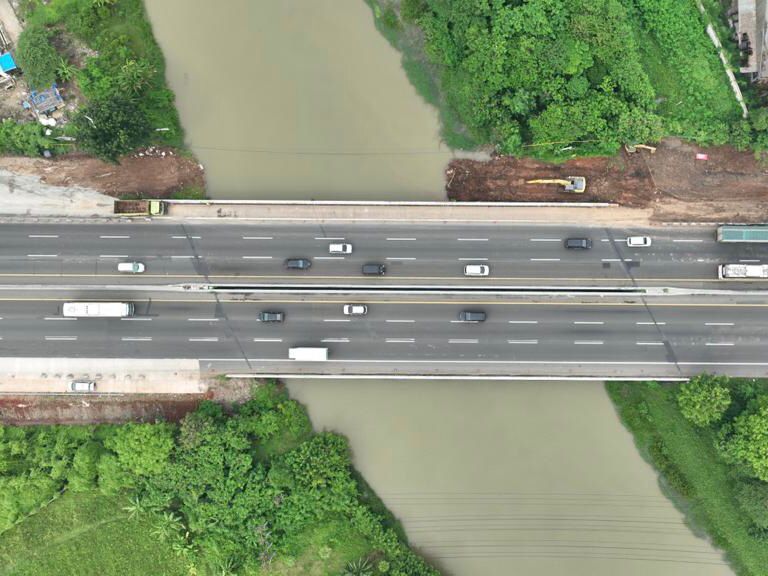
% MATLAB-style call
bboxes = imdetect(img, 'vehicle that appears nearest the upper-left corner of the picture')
[111,200,167,215]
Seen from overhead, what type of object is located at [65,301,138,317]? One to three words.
vehicle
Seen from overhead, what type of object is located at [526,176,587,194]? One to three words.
work vehicle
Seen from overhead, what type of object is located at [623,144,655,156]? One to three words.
vehicle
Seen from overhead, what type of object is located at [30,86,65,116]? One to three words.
shed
